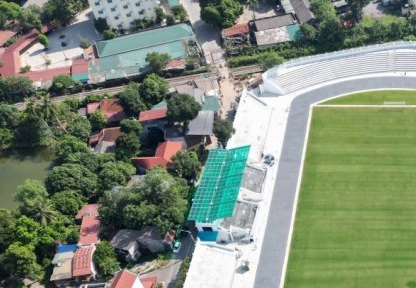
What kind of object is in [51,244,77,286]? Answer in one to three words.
house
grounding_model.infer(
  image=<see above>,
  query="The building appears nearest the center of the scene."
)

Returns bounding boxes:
[186,111,216,141]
